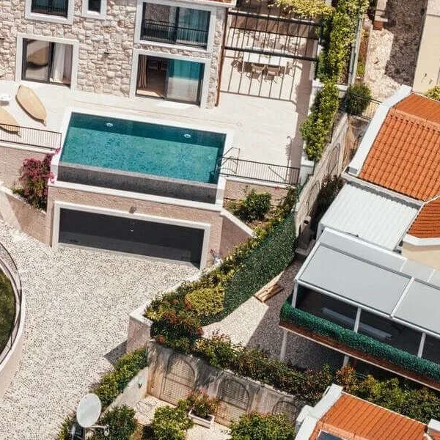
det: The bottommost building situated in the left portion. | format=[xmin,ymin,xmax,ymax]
[48,186,223,264]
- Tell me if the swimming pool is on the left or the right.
left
